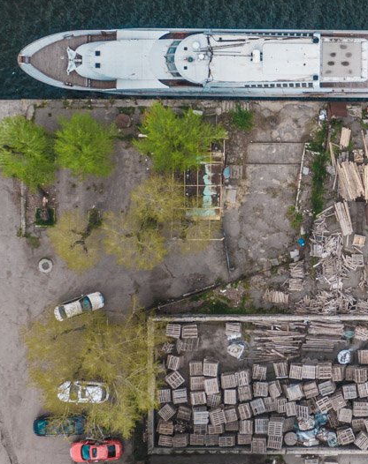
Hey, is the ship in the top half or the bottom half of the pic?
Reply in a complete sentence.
Seen from above, the ship lies in the top half of the view.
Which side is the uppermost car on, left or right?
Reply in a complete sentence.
It is on the left.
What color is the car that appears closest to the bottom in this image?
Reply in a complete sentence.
The color of the car that appears closest to the bottom is red.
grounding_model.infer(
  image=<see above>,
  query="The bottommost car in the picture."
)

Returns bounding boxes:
[70,440,124,464]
